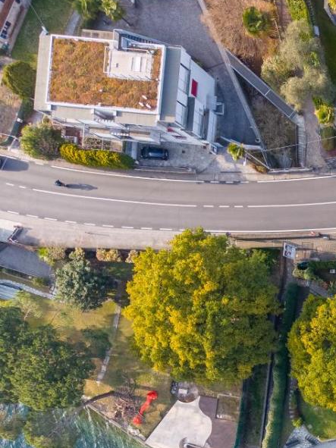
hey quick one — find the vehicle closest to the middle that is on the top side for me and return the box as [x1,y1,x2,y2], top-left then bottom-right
[138,146,168,162]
